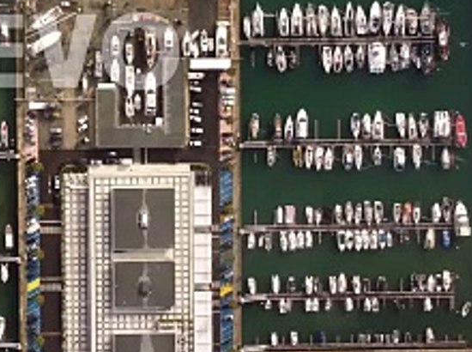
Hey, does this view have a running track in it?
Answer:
No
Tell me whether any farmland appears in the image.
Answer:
No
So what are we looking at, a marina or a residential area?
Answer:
marina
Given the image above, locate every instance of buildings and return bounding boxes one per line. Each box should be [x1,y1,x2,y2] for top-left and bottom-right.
[62,160,212,352]
[94,56,189,147]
